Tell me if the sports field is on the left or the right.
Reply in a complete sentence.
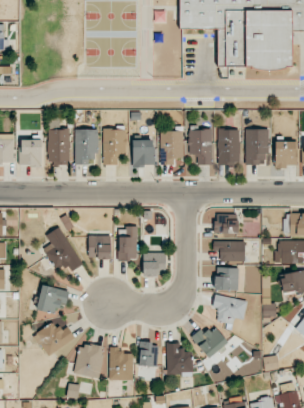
You can find the sports field on the left side of the picture.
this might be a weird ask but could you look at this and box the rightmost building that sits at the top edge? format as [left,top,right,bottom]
[180,0,304,70]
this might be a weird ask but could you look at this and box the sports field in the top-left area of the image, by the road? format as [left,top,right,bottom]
[22,0,83,86]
